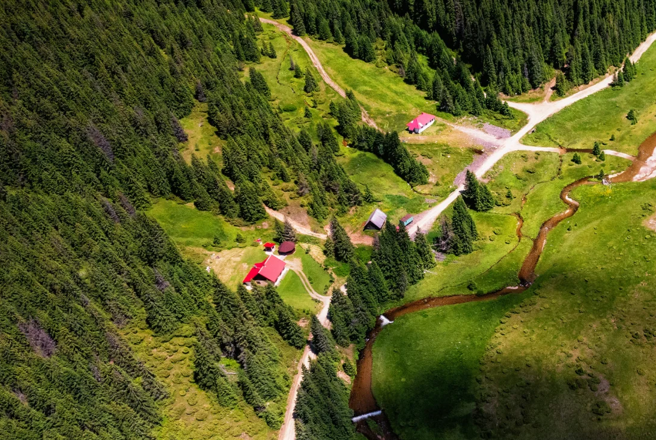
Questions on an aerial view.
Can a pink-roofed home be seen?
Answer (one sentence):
Yes, the picture does show a pink-roofed home.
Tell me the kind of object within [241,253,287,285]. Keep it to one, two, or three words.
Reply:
house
